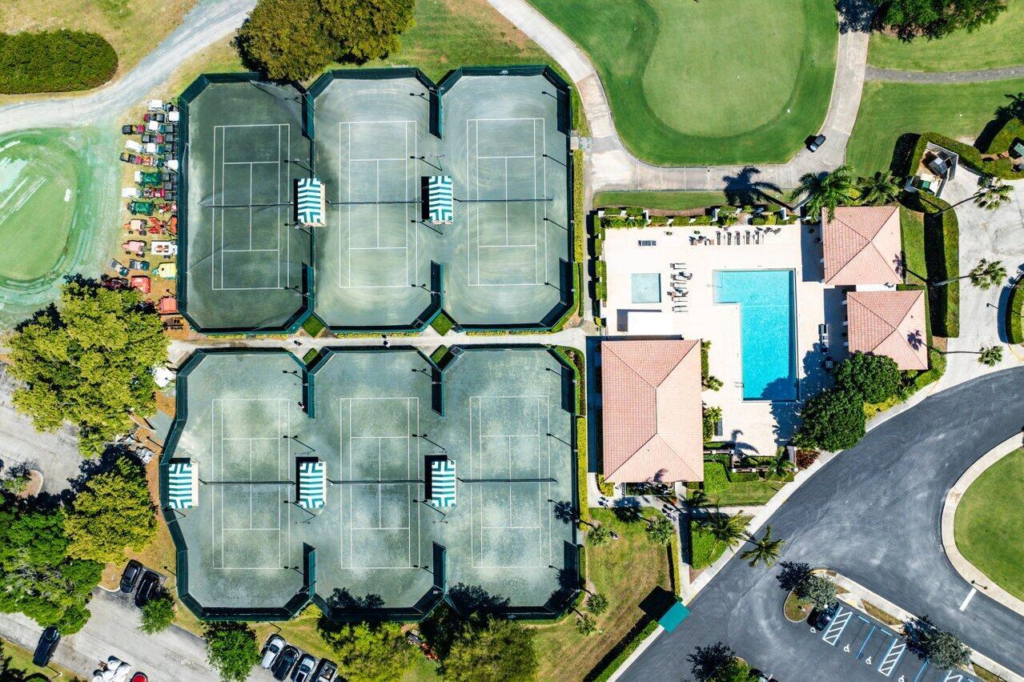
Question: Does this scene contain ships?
No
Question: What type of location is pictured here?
sports ground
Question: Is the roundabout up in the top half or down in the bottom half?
bottom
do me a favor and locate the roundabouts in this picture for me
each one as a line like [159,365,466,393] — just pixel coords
[942,432,1024,615]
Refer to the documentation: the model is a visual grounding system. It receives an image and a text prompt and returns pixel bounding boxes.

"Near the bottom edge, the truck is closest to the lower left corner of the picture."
[33,632,62,667]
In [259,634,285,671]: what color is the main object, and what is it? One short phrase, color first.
white car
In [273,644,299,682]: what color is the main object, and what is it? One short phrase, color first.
black car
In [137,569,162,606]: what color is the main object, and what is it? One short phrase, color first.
black car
